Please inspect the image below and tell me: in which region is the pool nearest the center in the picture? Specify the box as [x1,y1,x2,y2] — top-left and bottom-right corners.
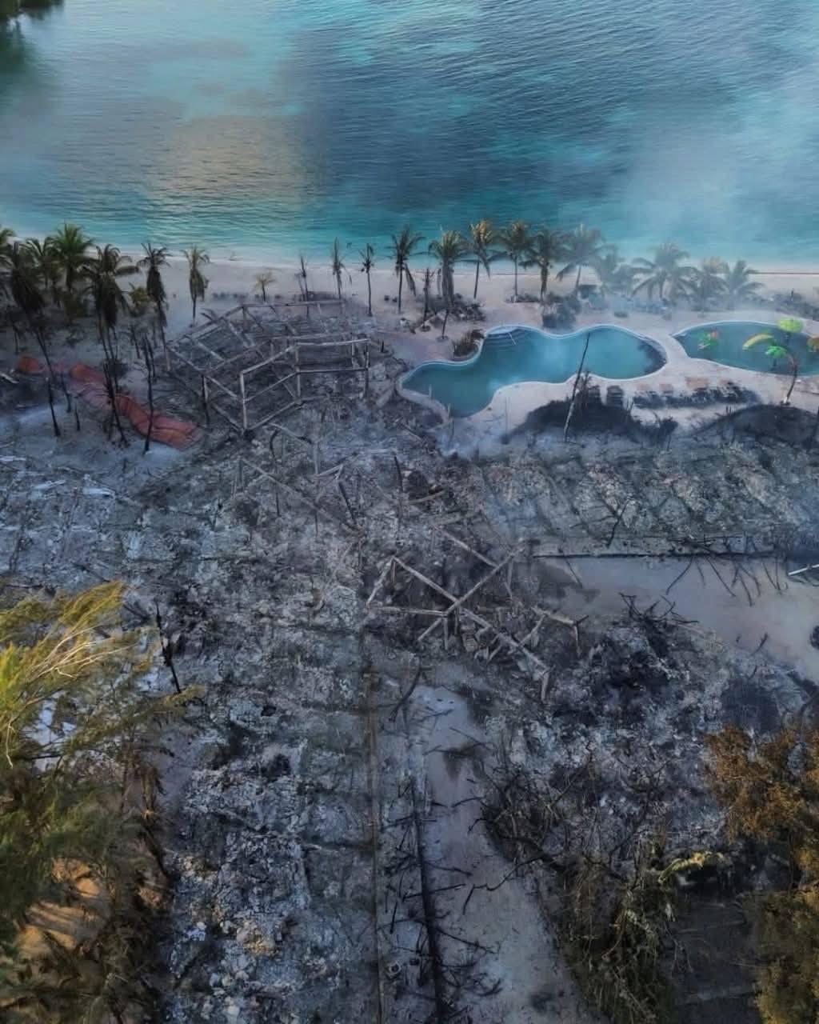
[396,323,668,419]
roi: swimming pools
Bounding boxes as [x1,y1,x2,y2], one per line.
[396,323,668,419]
[673,319,819,376]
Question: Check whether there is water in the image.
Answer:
Yes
